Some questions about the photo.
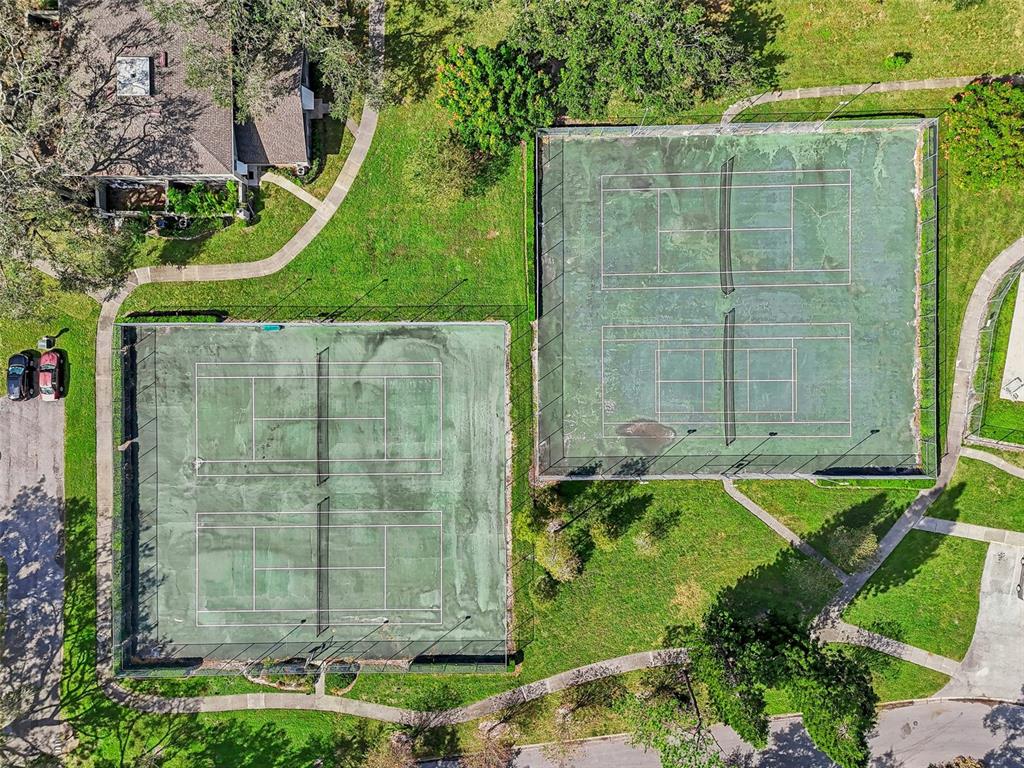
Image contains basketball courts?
No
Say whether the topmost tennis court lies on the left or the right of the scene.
right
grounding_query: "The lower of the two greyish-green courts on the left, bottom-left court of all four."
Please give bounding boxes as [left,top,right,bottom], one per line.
[131,493,508,661]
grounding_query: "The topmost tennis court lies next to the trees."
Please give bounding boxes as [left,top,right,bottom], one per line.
[538,129,917,307]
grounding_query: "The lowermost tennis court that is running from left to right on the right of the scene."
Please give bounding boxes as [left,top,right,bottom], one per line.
[538,303,917,475]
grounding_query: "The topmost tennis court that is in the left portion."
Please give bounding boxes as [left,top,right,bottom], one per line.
[131,323,507,496]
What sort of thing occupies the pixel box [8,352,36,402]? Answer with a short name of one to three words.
car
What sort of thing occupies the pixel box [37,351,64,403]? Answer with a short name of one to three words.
car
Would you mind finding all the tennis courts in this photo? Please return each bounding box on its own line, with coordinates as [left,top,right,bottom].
[131,323,507,496]
[538,303,917,475]
[131,493,508,661]
[538,129,917,307]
